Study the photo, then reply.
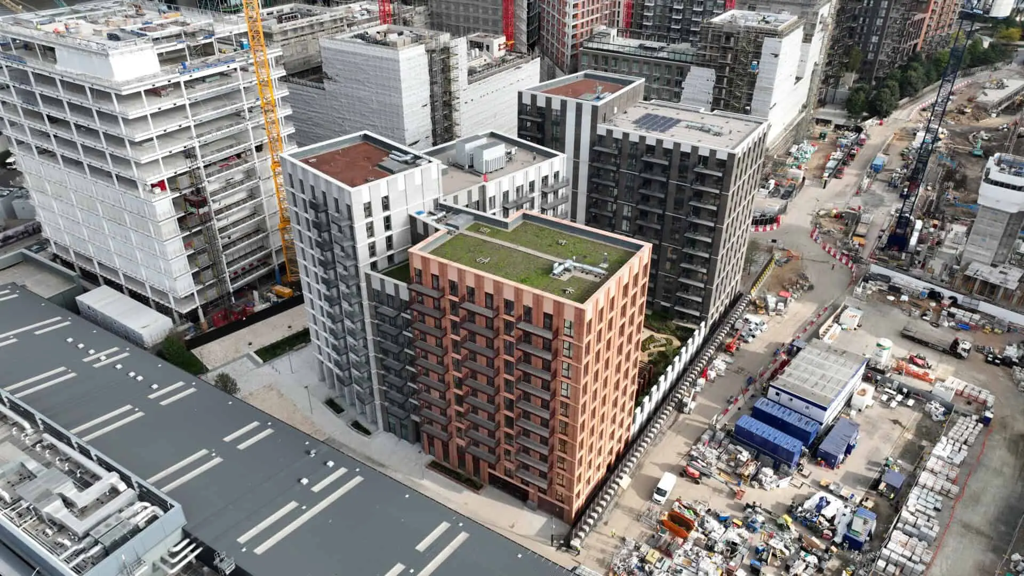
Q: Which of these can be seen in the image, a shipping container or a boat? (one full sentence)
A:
The image shows a shipping container.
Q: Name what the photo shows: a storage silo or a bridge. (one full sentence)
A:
Visible in the photo is a storage silo.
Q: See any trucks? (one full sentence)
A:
Yes, a truck can be made out from above.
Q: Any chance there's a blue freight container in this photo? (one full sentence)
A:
Yes, a blue freight container can be made out from above.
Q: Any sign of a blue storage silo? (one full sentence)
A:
No, the photo shows no blue storage silo.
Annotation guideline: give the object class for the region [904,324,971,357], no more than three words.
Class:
truck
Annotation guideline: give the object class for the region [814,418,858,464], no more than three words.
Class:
shipping container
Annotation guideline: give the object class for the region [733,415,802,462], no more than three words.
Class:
shipping container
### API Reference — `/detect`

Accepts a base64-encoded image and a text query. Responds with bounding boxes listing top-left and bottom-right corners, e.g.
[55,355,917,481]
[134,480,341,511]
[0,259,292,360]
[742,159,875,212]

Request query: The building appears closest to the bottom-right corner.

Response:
[766,338,861,433]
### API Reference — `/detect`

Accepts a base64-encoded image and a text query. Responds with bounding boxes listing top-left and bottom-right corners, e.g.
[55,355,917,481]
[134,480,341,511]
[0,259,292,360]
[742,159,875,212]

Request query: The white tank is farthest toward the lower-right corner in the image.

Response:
[849,389,877,418]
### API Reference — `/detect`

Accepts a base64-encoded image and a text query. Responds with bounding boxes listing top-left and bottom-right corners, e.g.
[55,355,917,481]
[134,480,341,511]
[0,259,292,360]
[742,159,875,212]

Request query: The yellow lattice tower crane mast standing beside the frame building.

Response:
[244,0,303,285]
